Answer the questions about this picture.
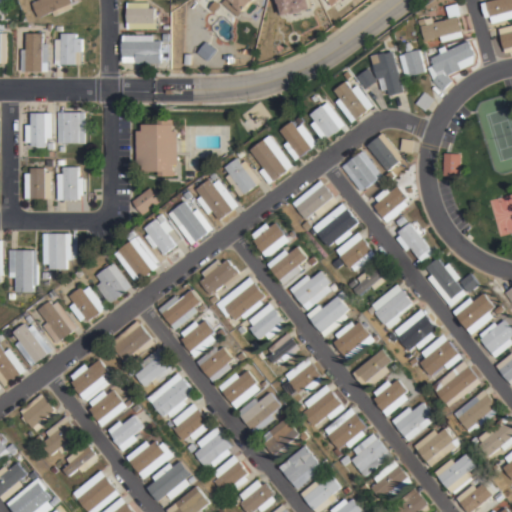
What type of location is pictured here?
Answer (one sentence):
The picture captures a residential area.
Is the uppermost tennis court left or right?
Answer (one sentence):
You can find the uppermost tennis court on the right side of the picture.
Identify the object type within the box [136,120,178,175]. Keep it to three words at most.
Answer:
building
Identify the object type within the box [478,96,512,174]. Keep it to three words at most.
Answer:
tennis court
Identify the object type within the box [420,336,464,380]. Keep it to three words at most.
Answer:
house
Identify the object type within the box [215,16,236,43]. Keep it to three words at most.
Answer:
swimming pool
